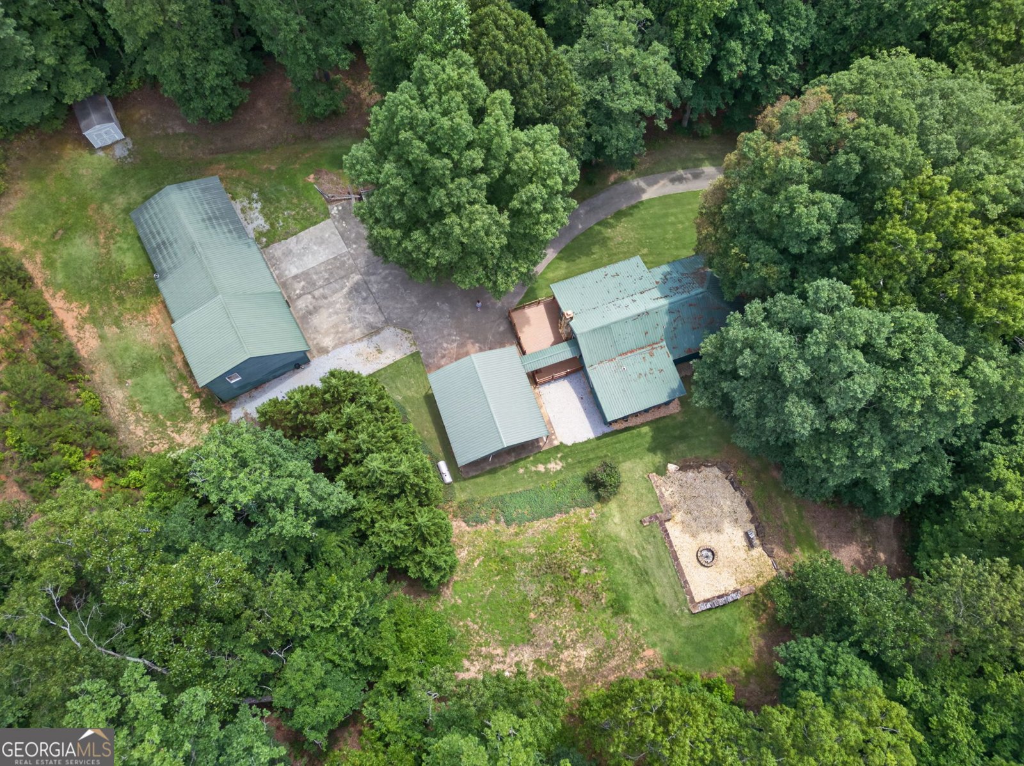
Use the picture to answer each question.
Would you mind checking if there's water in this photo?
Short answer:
No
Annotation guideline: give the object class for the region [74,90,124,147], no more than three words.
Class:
shed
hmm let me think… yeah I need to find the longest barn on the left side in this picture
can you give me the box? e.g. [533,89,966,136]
[129,175,312,398]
